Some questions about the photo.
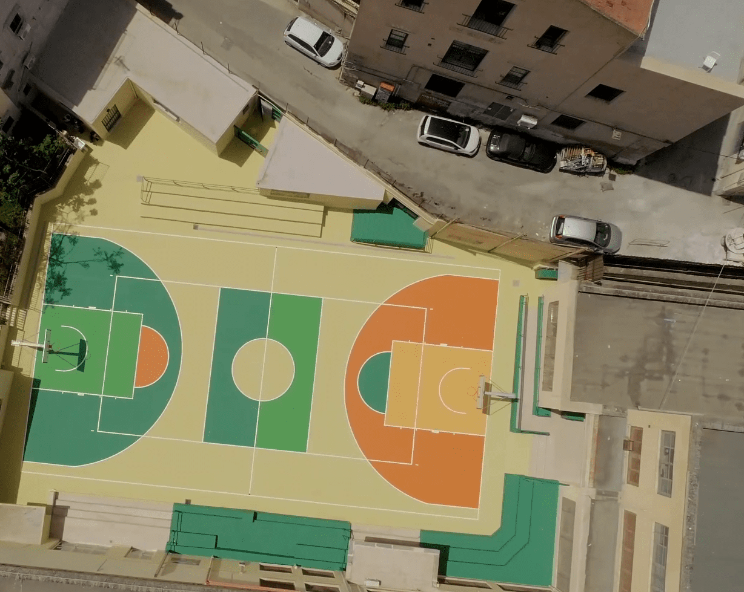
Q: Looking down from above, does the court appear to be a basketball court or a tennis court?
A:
basketball court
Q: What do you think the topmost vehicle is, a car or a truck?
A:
car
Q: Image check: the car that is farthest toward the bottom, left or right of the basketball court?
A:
to the right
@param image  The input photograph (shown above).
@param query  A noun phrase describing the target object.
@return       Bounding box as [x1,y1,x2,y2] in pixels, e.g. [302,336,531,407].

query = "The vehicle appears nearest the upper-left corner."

[283,18,344,69]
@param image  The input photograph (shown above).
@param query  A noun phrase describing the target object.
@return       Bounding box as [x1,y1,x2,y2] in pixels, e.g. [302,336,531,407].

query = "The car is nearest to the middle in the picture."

[417,118,480,158]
